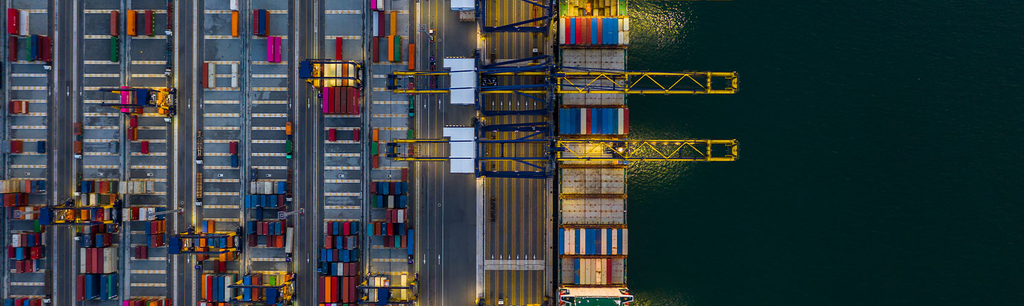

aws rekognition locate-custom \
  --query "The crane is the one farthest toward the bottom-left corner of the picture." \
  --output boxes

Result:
[36,198,123,226]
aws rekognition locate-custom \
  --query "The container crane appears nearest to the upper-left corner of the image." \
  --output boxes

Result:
[95,87,175,116]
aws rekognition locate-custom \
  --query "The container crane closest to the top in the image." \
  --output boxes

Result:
[387,0,739,42]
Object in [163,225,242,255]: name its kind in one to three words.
container crane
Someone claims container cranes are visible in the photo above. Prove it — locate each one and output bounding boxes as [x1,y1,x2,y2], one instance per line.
[163,225,242,255]
[387,0,739,42]
[95,87,175,116]
[296,60,364,90]
[36,198,123,226]
[387,51,739,122]
[387,120,739,181]
[225,272,298,305]
[355,272,420,306]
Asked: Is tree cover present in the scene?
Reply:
No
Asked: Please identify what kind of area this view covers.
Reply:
port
